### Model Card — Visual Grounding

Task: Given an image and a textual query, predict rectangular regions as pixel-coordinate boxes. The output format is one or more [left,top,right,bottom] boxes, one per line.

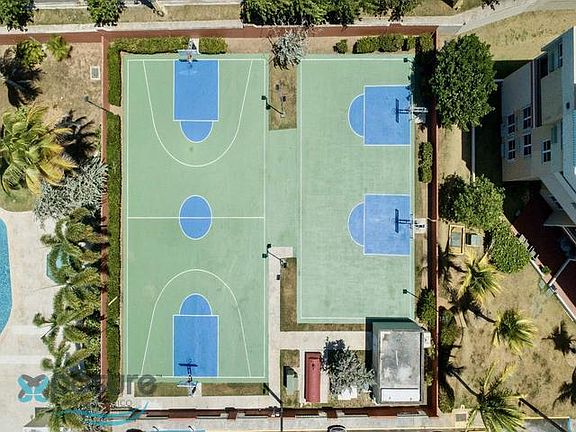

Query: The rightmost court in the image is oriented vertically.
[297,53,413,322]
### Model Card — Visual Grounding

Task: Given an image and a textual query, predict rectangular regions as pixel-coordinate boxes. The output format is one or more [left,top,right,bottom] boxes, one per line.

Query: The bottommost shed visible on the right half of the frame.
[373,323,426,406]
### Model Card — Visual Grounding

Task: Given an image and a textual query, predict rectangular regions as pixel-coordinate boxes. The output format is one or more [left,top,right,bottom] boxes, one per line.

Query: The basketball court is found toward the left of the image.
[123,53,297,383]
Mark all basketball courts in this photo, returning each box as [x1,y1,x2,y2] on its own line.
[123,53,297,383]
[297,53,413,322]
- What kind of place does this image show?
sports ground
